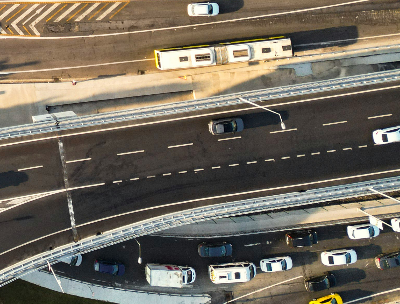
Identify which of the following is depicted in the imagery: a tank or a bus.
bus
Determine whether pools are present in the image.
No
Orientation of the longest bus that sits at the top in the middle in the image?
from left to right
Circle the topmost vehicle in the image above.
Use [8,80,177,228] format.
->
[185,1,219,17]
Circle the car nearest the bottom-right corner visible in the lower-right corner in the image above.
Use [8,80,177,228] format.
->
[374,248,400,269]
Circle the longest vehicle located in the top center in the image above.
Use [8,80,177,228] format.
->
[151,38,297,71]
